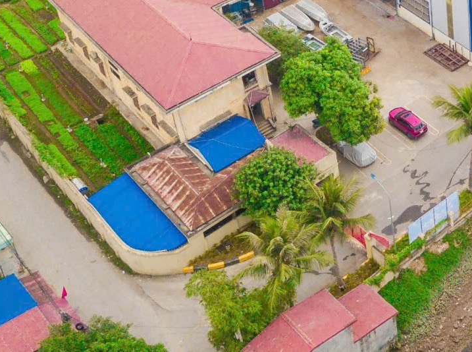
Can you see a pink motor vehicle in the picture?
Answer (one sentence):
Yes, I can see a pink motor vehicle in this picture.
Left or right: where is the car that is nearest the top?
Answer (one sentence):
It is on the right.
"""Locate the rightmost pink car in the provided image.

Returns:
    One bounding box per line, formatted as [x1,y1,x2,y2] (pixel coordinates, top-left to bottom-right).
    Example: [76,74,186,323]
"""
[387,107,434,143]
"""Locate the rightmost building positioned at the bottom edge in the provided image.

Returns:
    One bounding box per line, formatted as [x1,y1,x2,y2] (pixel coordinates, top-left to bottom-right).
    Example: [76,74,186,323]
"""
[232,261,398,352]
